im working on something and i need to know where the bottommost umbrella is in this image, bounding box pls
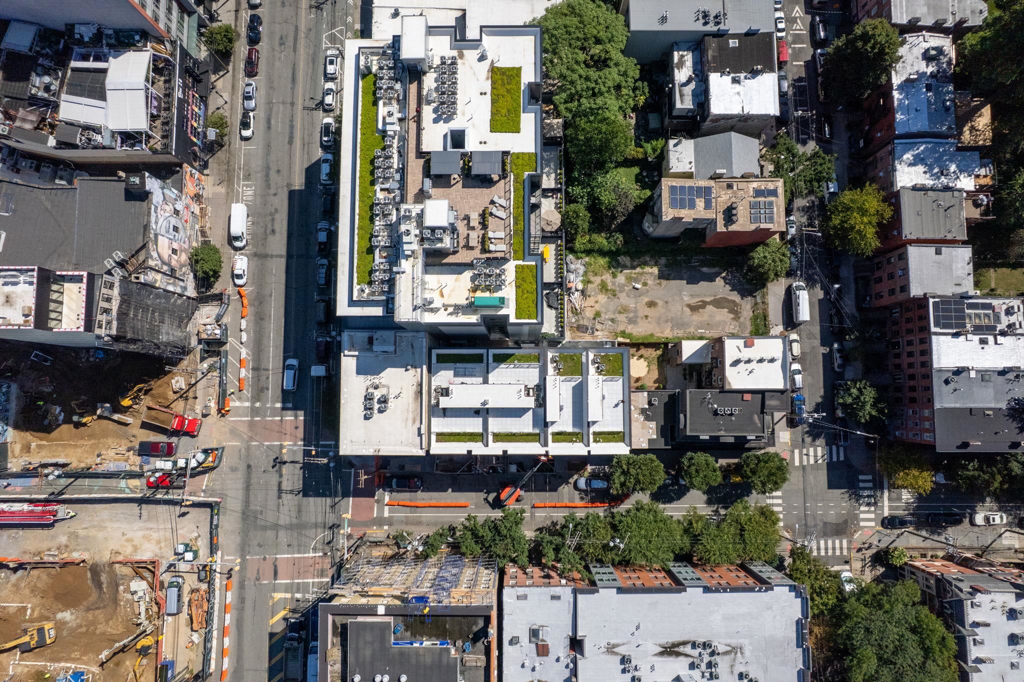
[540,210,561,231]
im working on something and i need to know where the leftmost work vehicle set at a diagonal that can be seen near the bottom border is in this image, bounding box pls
[131,629,158,670]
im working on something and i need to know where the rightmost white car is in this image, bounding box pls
[969,512,1004,527]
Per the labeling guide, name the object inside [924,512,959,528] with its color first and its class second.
black car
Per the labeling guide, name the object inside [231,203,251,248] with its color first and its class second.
white vehicle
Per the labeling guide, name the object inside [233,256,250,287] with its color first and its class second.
white car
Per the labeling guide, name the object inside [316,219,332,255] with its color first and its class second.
black vehicle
